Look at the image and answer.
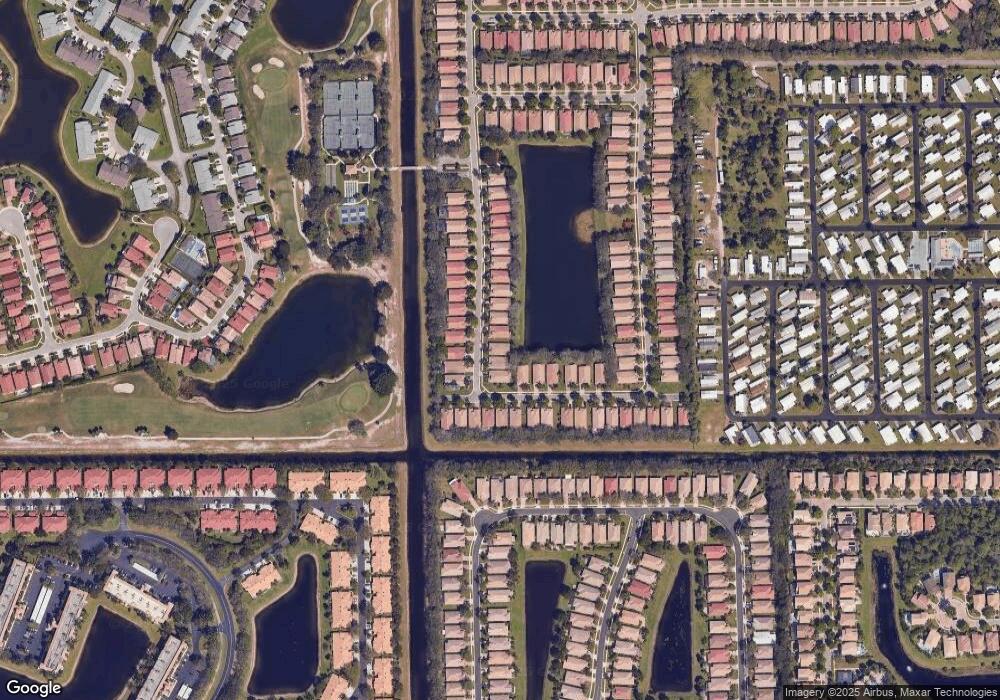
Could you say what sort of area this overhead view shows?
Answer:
residential area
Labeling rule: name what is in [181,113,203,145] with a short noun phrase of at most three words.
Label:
house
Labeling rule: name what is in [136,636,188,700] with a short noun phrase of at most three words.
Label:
building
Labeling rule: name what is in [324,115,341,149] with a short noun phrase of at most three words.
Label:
tennis court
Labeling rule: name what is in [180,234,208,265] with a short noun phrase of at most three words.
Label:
swimming pool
